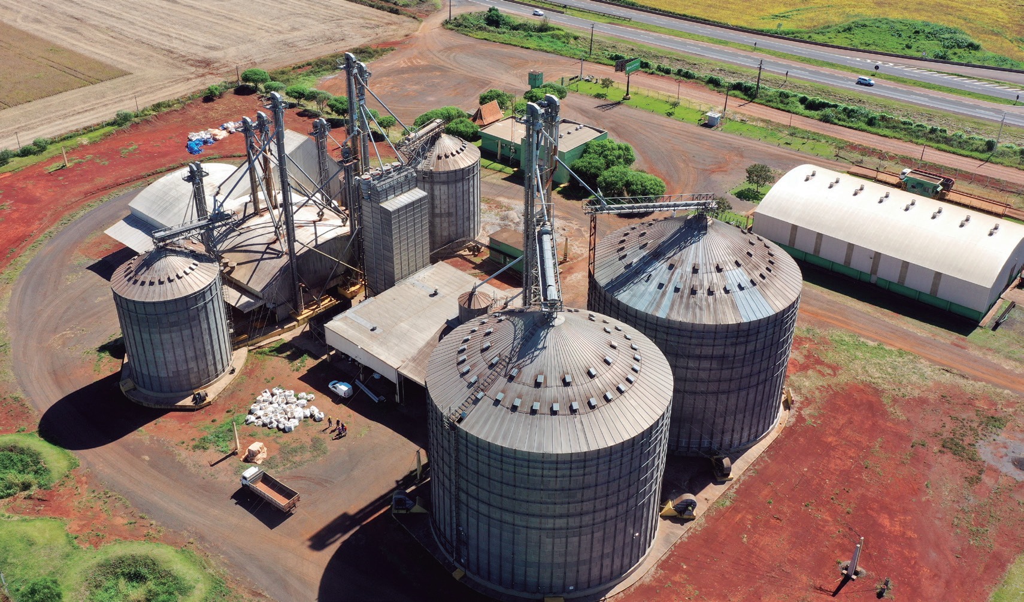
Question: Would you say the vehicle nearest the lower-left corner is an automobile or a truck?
truck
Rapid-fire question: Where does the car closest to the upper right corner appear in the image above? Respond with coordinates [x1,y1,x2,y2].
[854,74,876,86]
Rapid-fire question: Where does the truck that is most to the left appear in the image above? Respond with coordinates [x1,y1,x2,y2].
[236,464,300,516]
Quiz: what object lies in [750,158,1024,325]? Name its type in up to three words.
warehouse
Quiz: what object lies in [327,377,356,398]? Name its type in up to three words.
vehicle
